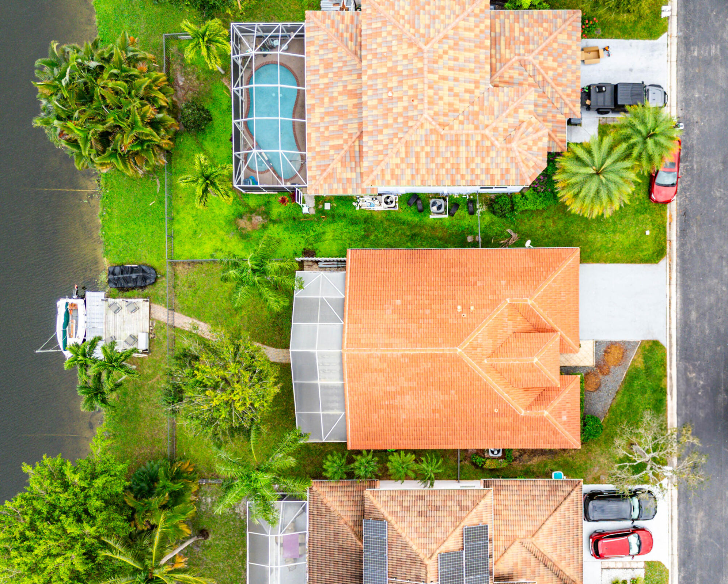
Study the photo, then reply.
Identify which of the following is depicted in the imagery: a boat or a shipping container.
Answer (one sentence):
I can see a boat in this picture.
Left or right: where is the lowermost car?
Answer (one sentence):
The lowermost car sits on the right side.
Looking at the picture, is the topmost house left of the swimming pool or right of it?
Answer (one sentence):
The swimming pool has the topmost house on its right side.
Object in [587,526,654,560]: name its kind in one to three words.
car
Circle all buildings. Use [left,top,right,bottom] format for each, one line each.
[308,477,585,584]
[340,245,582,451]
[304,0,582,197]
